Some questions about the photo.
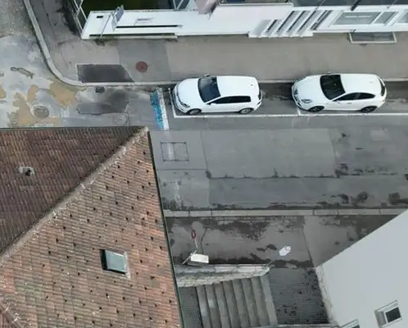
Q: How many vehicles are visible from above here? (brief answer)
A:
two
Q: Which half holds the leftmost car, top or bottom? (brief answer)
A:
top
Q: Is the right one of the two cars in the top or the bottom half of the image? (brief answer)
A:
top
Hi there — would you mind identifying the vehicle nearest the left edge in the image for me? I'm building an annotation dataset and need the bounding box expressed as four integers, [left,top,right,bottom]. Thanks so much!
[171,70,260,114]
